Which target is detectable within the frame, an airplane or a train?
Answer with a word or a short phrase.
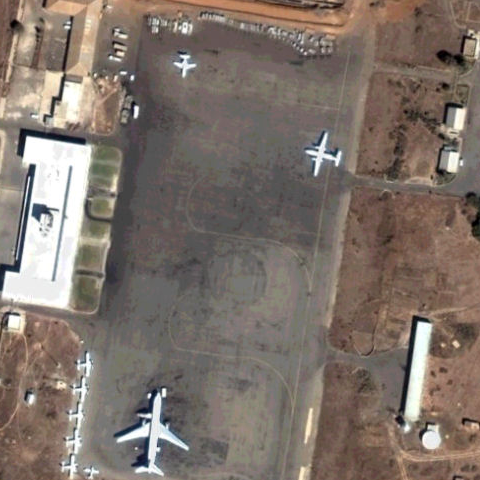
airplane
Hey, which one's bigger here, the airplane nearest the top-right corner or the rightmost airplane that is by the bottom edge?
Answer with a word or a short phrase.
the rightmost airplane that is by the bottom edge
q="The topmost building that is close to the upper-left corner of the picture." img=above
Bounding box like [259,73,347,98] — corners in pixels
[45,0,102,75]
